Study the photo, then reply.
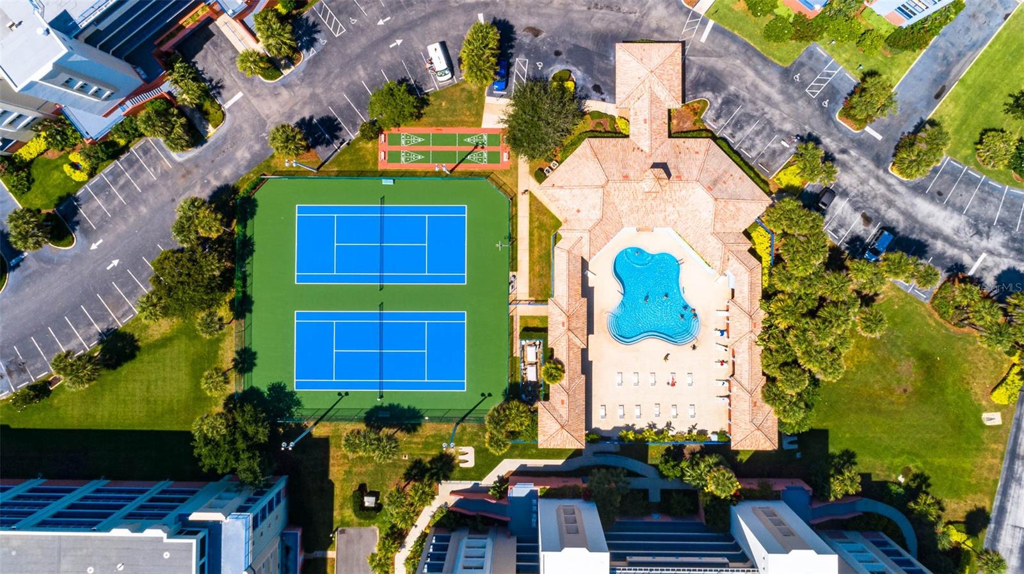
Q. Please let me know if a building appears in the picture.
Yes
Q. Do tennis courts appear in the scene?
Yes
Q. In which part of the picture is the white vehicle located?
top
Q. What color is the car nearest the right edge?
blue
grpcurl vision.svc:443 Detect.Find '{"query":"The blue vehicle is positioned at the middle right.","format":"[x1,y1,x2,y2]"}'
[865,230,898,263]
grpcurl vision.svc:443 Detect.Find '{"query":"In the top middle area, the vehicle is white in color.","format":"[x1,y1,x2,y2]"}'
[426,37,450,81]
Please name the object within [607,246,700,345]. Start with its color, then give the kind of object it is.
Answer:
blue swimming pool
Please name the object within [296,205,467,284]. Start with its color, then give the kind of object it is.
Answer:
blue tennis court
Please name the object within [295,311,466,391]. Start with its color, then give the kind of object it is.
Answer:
blue tennis court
